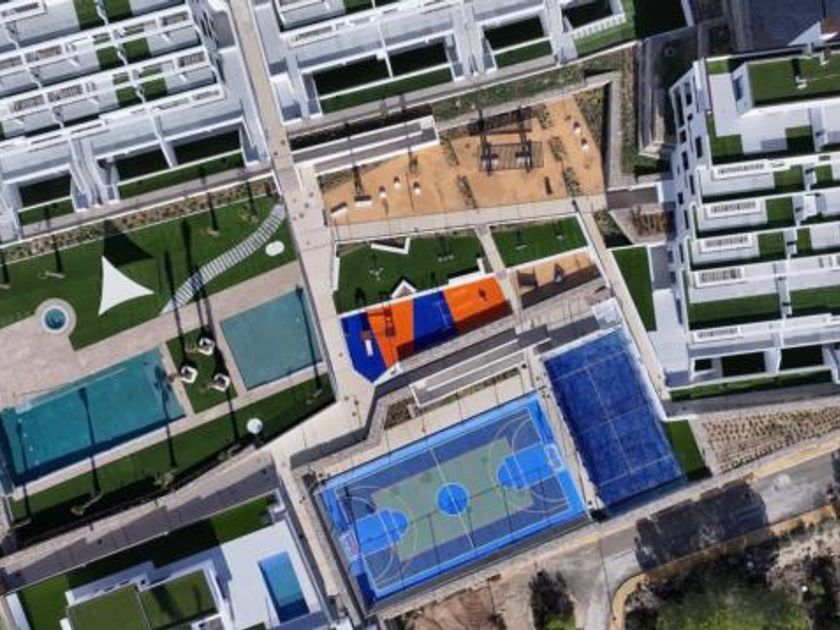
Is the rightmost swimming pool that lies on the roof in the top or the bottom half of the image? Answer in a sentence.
The bottom half of the photo is where the rightmost swimming pool that lies on the roof is.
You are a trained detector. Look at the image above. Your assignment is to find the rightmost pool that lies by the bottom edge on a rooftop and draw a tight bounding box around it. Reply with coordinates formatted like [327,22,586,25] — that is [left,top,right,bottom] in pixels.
[257,548,312,622]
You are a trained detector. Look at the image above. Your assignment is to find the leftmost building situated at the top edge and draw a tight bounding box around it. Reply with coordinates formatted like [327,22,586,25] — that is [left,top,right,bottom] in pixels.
[0,0,249,230]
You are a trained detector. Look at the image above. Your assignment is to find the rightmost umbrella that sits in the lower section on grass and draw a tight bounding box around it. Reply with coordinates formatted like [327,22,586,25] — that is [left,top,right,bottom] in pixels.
[245,417,261,433]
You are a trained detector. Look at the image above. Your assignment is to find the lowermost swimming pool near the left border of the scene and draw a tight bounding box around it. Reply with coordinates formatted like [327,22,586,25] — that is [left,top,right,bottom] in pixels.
[0,345,187,490]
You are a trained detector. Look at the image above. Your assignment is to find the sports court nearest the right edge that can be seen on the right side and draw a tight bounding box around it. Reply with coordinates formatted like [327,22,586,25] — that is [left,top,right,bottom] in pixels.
[545,329,690,514]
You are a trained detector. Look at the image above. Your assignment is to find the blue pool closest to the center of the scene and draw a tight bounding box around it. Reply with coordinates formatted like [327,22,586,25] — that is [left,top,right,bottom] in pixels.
[219,285,325,392]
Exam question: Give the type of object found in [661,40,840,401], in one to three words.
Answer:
building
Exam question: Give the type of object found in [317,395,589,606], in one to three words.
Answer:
sports court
